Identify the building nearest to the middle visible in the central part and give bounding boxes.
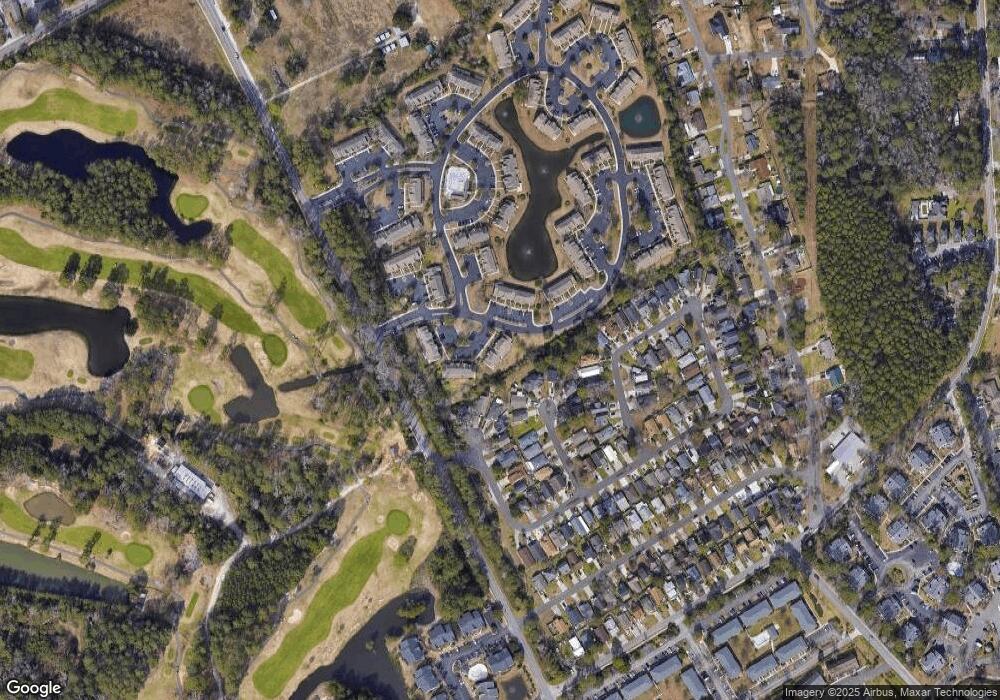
[480,331,511,365]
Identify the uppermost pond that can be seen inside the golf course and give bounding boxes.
[226,346,278,422]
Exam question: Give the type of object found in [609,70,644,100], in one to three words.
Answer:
building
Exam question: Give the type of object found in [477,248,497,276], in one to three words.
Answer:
building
